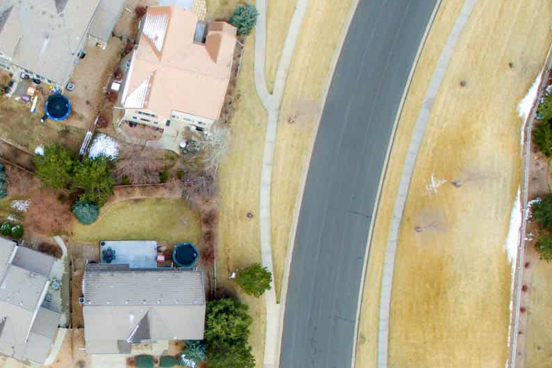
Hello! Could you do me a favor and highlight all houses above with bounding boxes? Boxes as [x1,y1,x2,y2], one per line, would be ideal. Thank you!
[0,236,63,366]
[83,263,206,356]
[124,2,238,127]
[0,0,124,94]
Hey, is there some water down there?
No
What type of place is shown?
residential area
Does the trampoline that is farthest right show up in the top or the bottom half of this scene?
bottom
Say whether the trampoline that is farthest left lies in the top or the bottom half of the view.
top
